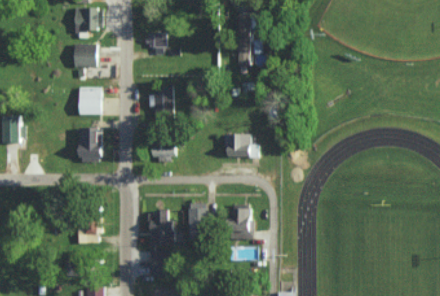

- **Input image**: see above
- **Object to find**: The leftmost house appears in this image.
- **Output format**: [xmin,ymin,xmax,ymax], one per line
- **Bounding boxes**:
[2,116,27,145]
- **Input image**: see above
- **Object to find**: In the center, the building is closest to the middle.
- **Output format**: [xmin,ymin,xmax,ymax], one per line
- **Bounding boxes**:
[224,134,260,159]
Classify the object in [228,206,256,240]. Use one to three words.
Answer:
house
